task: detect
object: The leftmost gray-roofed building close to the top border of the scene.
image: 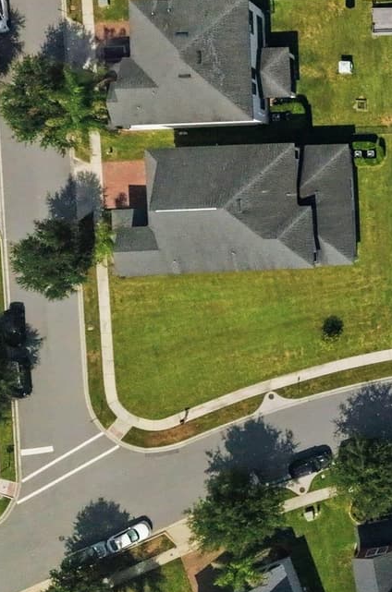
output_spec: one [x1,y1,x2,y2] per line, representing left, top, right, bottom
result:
[107,0,300,129]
